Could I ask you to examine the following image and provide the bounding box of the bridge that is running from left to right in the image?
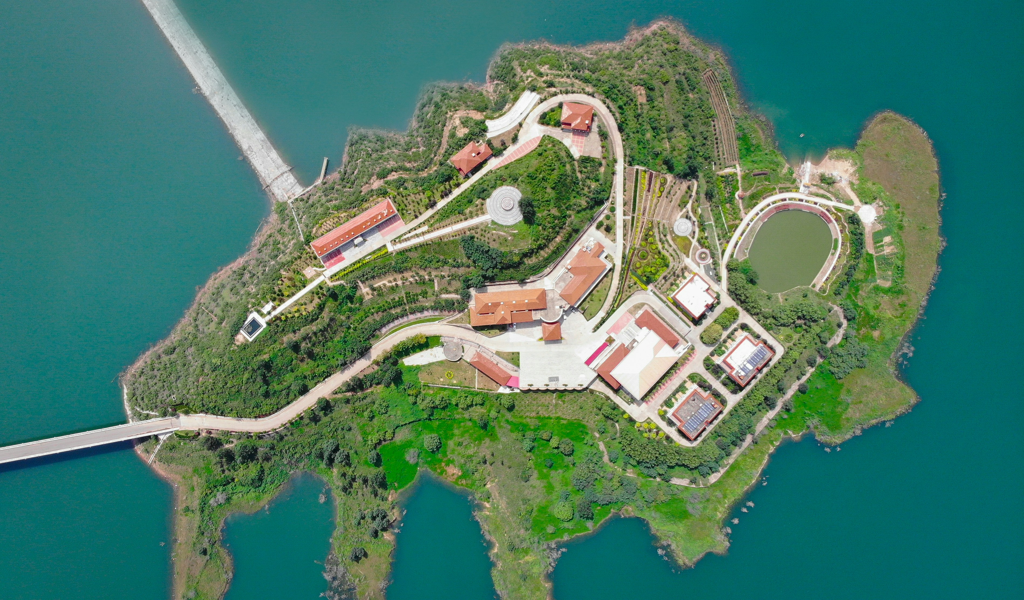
[0,416,179,463]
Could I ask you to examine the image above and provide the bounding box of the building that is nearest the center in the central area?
[470,288,570,326]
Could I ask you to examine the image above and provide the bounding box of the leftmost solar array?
[683,403,714,434]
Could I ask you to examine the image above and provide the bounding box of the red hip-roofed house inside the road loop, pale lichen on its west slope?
[561,102,593,132]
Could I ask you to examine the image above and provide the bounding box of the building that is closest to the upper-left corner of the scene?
[310,198,397,257]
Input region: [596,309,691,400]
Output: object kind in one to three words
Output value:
building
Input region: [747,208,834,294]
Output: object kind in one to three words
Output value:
pond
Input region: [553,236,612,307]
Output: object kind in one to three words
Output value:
building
